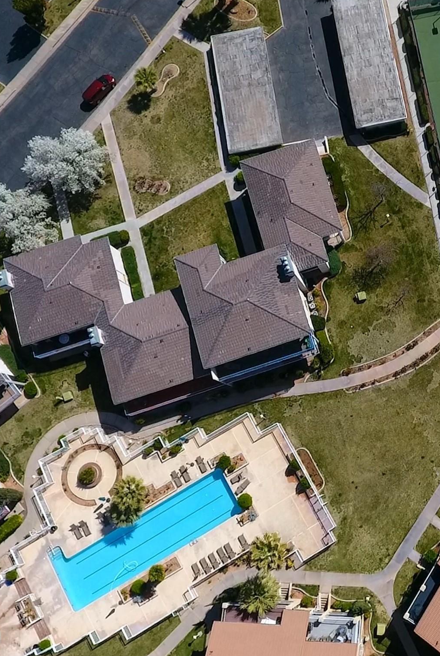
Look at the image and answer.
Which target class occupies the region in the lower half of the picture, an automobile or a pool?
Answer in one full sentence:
There is a pool in the lower half of the picture.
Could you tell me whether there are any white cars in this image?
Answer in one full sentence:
No, no white car is visible in the view.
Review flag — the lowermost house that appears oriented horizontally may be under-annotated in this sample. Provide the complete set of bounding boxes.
[205,584,367,656]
